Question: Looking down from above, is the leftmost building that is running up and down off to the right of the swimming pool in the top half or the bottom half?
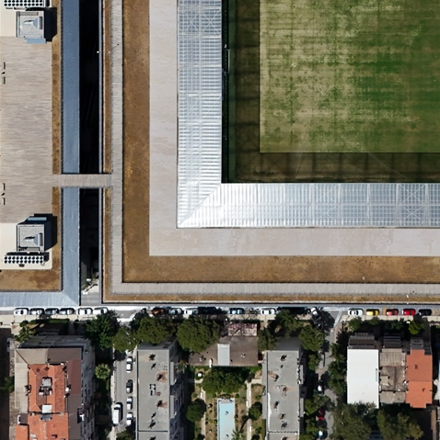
bottom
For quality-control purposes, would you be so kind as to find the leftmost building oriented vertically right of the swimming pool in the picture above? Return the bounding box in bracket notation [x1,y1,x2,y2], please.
[266,335,307,440]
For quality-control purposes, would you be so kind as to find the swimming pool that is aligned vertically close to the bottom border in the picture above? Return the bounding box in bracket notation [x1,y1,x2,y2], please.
[217,399,235,440]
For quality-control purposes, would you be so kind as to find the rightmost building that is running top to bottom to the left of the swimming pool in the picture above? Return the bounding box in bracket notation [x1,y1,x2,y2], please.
[137,335,183,440]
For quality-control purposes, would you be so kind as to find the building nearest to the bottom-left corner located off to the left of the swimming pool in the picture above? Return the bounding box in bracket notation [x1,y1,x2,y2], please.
[14,333,97,440]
